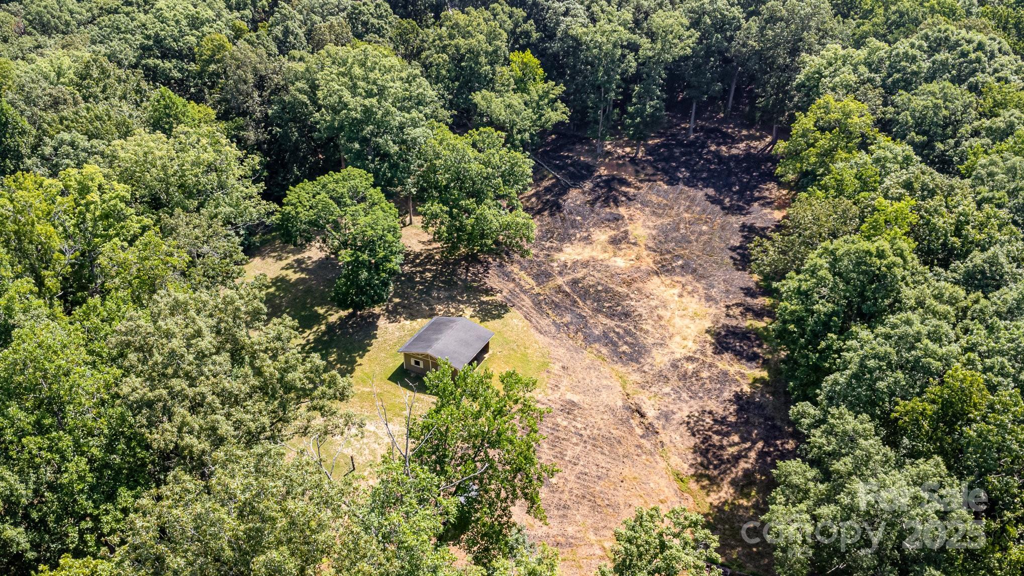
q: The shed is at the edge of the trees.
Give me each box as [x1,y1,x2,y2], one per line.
[398,316,494,386]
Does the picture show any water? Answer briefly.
No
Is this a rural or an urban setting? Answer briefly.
rural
